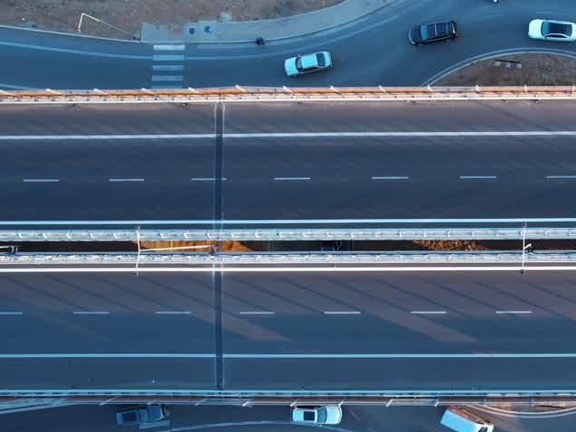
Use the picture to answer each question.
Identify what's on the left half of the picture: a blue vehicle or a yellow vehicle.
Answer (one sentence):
What appears on the left half of the picture is a blue vehicle.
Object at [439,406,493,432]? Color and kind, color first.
blue vehicle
